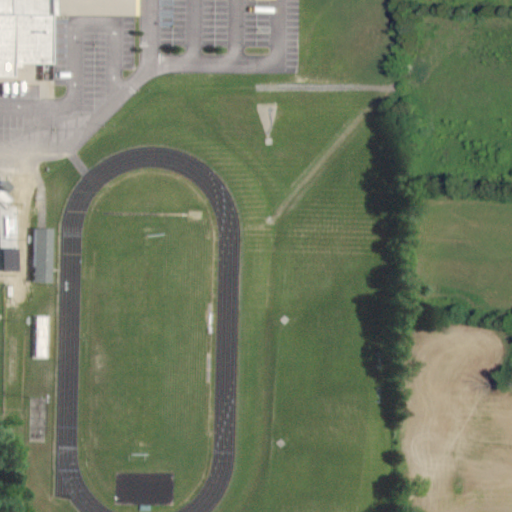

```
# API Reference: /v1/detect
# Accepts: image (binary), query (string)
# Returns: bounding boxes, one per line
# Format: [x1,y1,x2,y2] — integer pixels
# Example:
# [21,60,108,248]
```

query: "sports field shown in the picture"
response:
[78,168,220,512]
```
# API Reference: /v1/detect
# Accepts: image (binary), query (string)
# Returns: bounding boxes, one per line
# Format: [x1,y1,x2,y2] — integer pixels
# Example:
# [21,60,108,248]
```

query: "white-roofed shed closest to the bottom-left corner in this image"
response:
[34,316,50,359]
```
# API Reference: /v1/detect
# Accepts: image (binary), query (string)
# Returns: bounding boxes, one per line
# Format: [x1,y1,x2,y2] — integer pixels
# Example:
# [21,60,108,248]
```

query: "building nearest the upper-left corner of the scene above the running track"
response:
[0,0,140,76]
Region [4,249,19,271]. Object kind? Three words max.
building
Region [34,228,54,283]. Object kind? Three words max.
building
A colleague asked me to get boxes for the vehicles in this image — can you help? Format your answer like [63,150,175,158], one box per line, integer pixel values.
[12,82,18,98]
[7,284,13,298]
[3,82,10,98]
[56,72,72,78]
[20,80,27,96]
[245,6,276,14]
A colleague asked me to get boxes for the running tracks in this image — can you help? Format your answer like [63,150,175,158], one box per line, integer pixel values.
[55,146,242,512]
